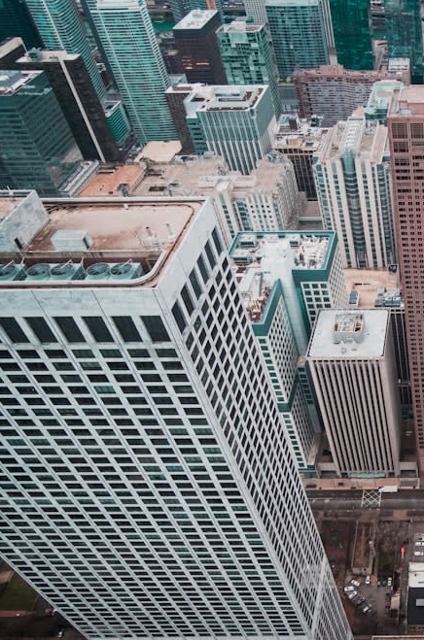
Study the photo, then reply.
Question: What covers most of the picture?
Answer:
buildings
